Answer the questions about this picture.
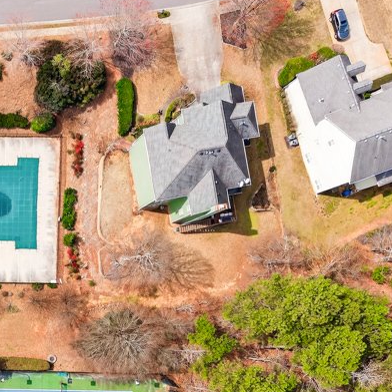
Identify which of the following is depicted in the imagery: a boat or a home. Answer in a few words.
home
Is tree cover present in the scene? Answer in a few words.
Yes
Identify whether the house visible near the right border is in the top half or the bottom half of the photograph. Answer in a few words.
top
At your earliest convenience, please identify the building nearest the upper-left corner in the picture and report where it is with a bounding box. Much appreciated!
[131,84,260,234]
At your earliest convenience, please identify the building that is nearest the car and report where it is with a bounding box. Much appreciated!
[284,54,392,194]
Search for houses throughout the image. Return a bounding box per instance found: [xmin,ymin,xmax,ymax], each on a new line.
[131,84,260,234]
[284,54,392,194]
